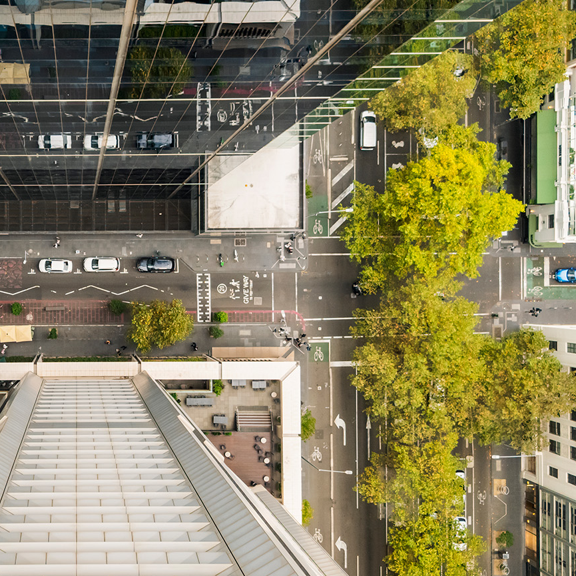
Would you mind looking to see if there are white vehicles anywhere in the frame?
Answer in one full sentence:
Yes, the photo shows a white vehicle.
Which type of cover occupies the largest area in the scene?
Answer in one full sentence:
The largest share of the image is taken up by buildings.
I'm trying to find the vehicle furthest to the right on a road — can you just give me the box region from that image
[553,266,576,285]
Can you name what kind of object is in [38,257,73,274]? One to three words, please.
car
